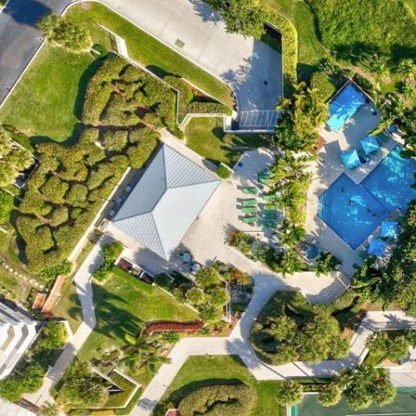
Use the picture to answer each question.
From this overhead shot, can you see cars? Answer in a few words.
No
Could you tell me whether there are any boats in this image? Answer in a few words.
No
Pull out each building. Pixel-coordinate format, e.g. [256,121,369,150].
[112,144,225,260]
[0,300,38,378]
